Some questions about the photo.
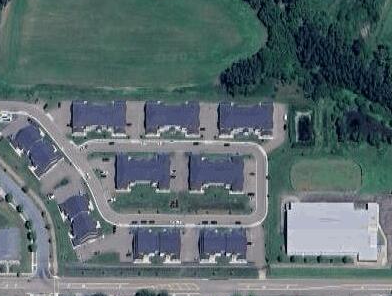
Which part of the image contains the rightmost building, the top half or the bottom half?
bottom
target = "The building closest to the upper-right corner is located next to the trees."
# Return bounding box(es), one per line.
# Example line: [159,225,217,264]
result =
[219,100,273,136]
